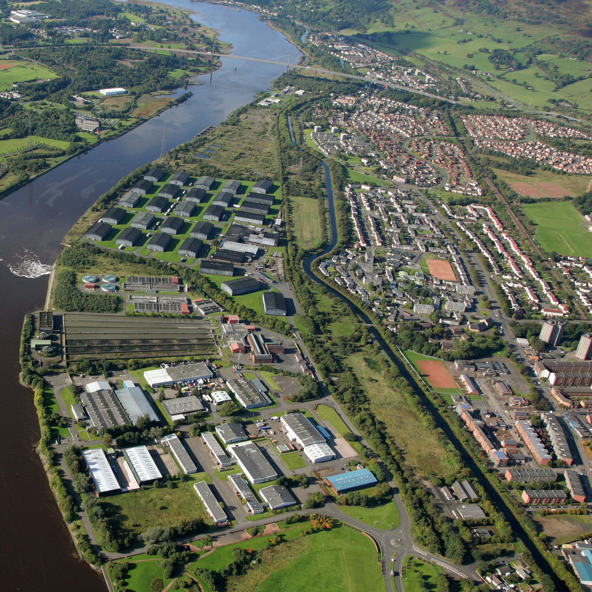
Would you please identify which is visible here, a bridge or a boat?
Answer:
bridge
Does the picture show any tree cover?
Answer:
Yes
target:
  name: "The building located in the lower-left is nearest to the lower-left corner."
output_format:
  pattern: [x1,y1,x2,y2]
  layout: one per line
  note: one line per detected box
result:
[85,448,121,496]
